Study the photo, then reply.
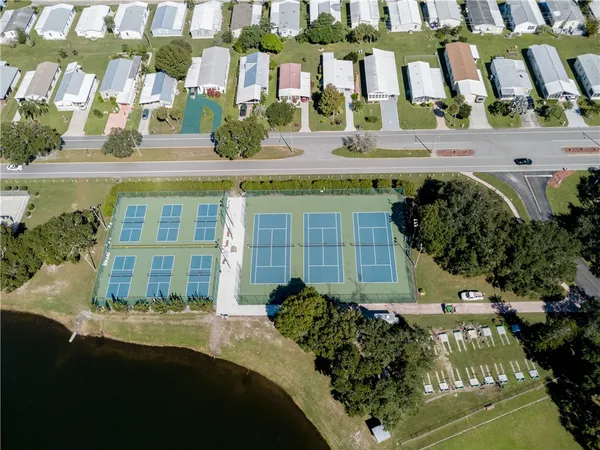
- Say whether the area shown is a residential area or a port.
residential area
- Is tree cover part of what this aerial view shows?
Yes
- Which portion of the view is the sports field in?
bottom right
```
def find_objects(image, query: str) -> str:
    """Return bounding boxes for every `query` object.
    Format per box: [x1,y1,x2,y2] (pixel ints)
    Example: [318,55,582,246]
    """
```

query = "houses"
[114,2,148,38]
[387,0,422,30]
[445,43,486,101]
[426,0,462,26]
[491,60,533,102]
[231,4,261,35]
[152,2,188,35]
[75,6,111,37]
[543,0,587,35]
[350,0,379,28]
[0,9,36,36]
[504,0,547,30]
[35,5,75,37]
[190,2,224,36]
[364,49,400,99]
[279,62,311,101]
[0,60,21,103]
[141,74,178,108]
[311,0,342,28]
[186,46,229,93]
[465,0,504,31]
[408,62,446,103]
[528,46,578,100]
[56,63,97,107]
[15,63,61,103]
[100,56,144,109]
[237,54,270,107]
[575,56,600,101]
[323,52,354,95]
[271,1,300,36]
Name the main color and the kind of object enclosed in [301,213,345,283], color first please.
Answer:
blue tennis court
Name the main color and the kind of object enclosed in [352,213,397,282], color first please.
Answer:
blue tennis court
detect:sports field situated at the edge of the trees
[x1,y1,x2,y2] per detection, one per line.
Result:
[421,396,584,450]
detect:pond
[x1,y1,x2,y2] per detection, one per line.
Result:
[0,309,332,450]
